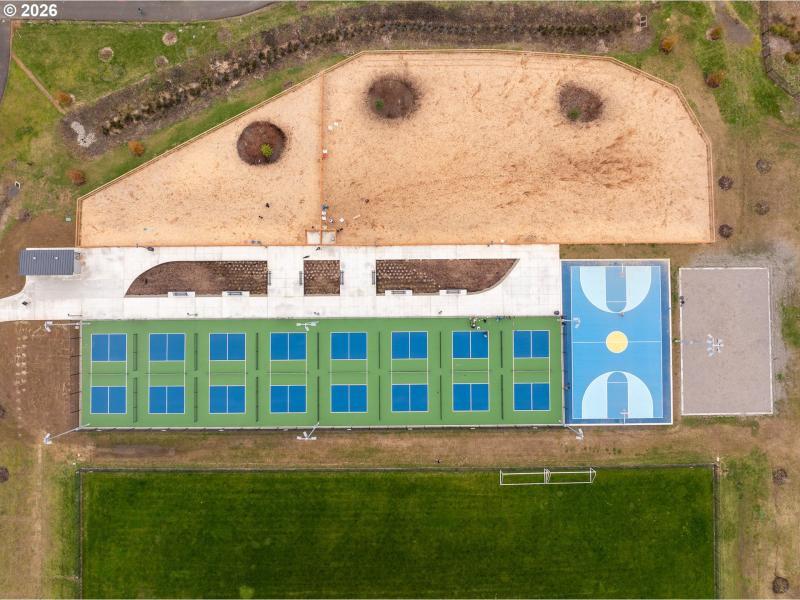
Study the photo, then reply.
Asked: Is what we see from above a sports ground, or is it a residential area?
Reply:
sports ground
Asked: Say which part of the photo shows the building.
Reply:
left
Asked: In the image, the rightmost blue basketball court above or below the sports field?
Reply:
above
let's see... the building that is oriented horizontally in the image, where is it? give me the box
[20,250,83,276]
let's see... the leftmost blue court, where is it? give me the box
[91,333,127,414]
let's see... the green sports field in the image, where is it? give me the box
[81,468,715,600]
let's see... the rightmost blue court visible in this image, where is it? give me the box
[559,259,673,425]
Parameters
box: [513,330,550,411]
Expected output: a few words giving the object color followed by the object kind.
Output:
blue sports court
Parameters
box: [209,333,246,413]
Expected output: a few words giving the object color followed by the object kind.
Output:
blue sports court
